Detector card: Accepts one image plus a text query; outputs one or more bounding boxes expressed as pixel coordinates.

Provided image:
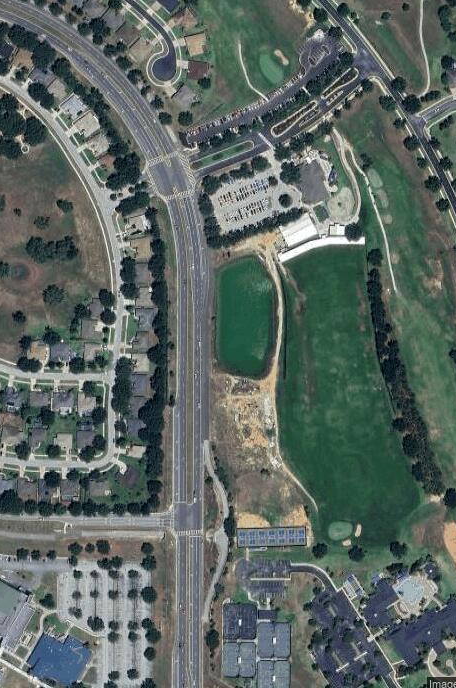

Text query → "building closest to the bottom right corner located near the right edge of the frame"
[383,595,456,662]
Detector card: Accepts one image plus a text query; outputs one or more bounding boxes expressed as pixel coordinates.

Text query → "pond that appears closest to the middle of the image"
[214,257,273,378]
